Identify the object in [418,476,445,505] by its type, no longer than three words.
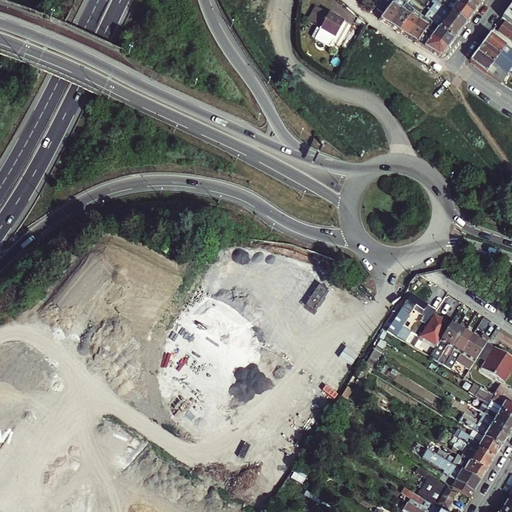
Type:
building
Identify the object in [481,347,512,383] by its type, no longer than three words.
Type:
house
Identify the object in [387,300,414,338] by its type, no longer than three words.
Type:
house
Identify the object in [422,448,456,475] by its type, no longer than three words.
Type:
shed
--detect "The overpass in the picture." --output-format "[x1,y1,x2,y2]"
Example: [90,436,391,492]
[0,0,342,208]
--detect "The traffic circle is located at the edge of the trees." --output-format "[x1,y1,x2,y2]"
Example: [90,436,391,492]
[330,151,463,271]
